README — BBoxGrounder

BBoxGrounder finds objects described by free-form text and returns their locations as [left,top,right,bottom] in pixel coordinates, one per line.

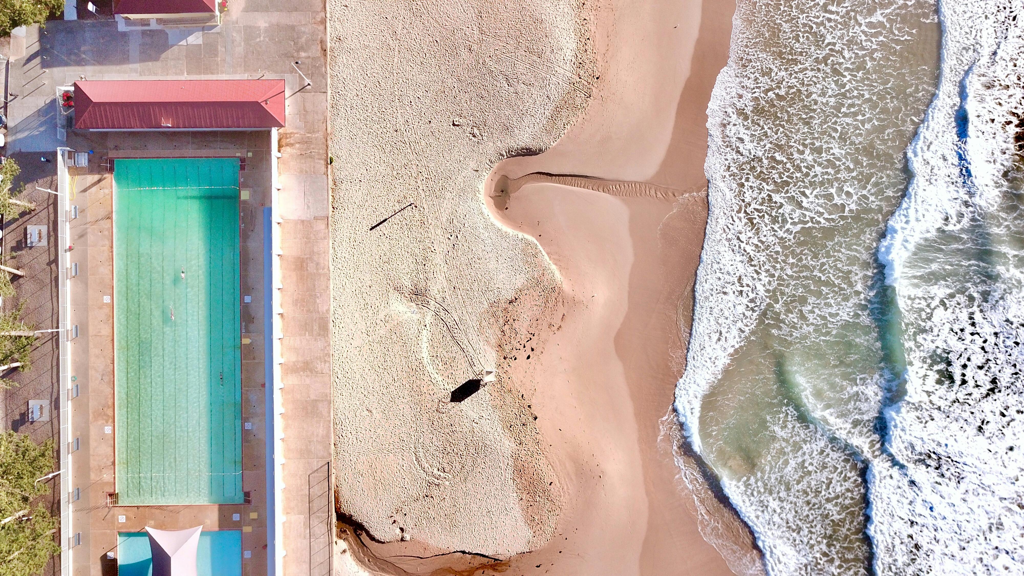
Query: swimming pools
[104,156,253,507]
[120,528,244,576]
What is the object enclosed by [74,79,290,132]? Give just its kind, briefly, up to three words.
building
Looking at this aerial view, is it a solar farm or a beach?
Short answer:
beach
